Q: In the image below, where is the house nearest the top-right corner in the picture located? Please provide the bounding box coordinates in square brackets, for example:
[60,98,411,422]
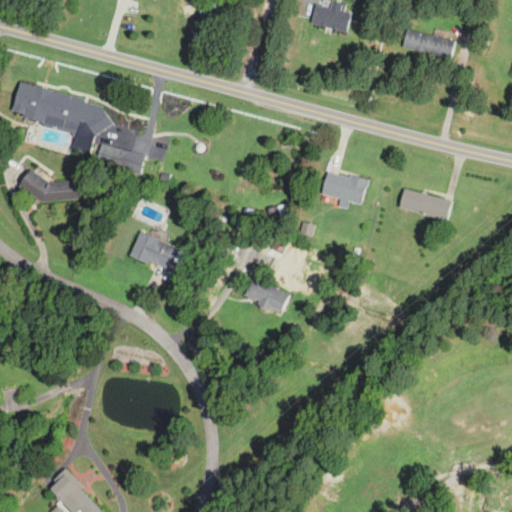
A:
[404,30,456,57]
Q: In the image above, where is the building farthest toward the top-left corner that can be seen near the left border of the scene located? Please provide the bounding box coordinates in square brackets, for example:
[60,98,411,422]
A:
[12,82,114,154]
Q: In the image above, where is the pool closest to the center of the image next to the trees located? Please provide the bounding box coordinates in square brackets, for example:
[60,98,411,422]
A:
[142,206,164,222]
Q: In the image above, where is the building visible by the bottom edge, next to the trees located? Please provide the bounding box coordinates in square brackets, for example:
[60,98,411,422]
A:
[50,471,104,512]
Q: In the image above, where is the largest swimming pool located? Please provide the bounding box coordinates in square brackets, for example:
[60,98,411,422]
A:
[42,128,70,148]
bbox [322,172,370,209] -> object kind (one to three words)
house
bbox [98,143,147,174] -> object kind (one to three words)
building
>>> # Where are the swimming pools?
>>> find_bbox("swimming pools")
[42,128,70,148]
[142,206,164,222]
